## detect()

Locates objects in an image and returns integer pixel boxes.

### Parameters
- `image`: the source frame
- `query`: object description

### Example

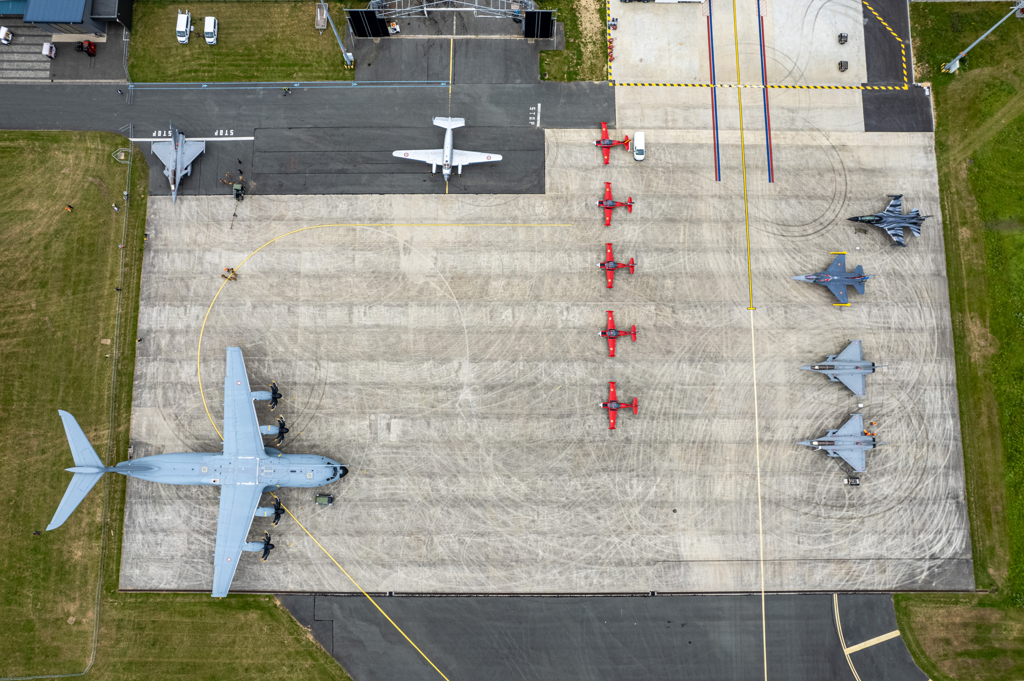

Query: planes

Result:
[593,122,631,165]
[598,311,639,357]
[152,119,207,202]
[597,243,637,288]
[849,195,935,248]
[792,252,874,306]
[595,182,635,226]
[796,414,889,472]
[393,112,502,182]
[599,382,639,430]
[45,347,348,599]
[797,340,887,396]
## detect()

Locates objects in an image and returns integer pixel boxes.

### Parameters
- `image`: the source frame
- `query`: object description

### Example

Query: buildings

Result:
[344,0,560,51]
[23,0,107,33]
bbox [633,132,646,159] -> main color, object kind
white vehicle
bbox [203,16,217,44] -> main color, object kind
white vehicle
